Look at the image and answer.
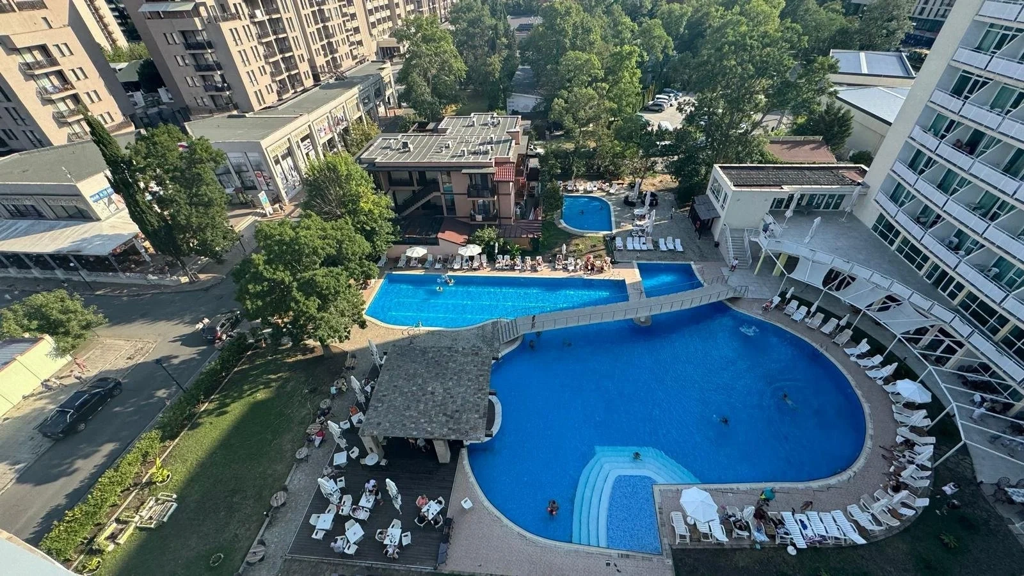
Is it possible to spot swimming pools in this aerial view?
Yes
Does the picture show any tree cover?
Yes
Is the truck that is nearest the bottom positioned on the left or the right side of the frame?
left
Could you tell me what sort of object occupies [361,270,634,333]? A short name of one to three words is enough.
swimming pool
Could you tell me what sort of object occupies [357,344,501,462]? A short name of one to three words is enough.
building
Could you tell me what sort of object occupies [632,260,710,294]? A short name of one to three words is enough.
swimming pool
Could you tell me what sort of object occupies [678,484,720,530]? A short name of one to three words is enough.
umbrella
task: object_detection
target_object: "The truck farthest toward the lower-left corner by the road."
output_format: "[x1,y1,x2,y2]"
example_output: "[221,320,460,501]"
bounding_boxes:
[36,375,124,440]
